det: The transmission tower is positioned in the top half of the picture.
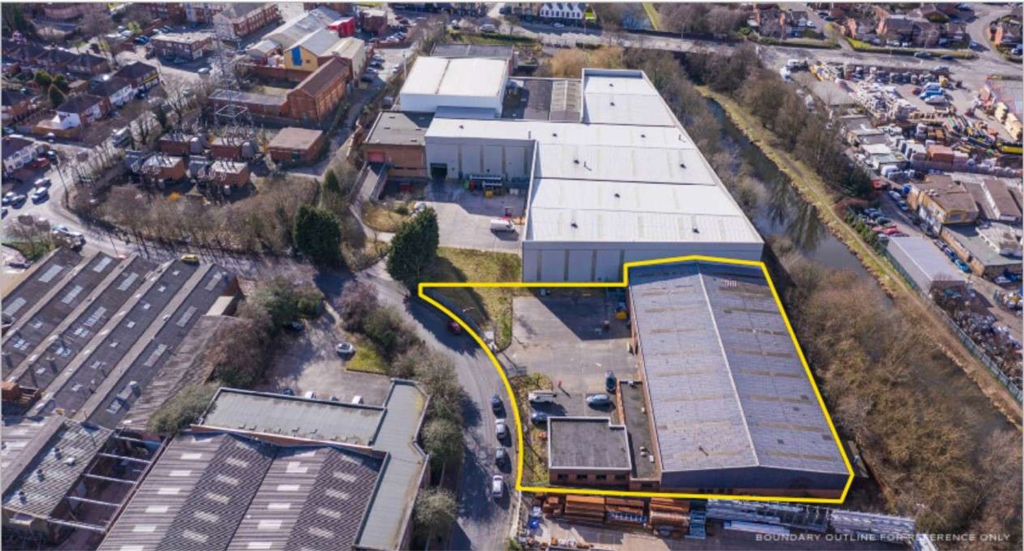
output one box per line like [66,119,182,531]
[173,0,255,139]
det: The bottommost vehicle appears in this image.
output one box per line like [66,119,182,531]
[490,471,505,497]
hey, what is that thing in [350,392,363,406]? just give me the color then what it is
white vehicle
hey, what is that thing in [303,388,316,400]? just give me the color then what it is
white vehicle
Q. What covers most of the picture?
buildings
